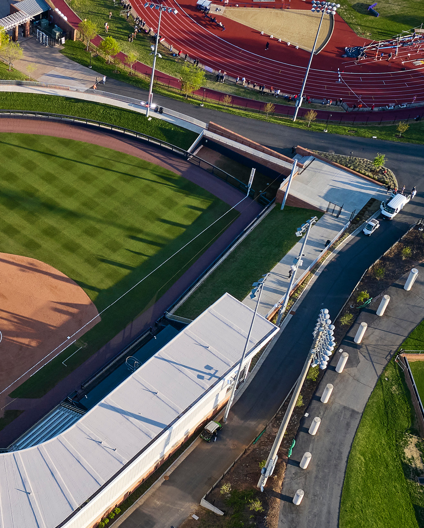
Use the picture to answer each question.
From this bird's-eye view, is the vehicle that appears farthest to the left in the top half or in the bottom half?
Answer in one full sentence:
The bottom half of the photo is where the vehicle that appears farthest to the left is.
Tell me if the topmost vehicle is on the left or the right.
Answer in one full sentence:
The topmost vehicle appears in the right half of the scene.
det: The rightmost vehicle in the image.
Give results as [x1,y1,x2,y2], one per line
[385,183,418,216]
